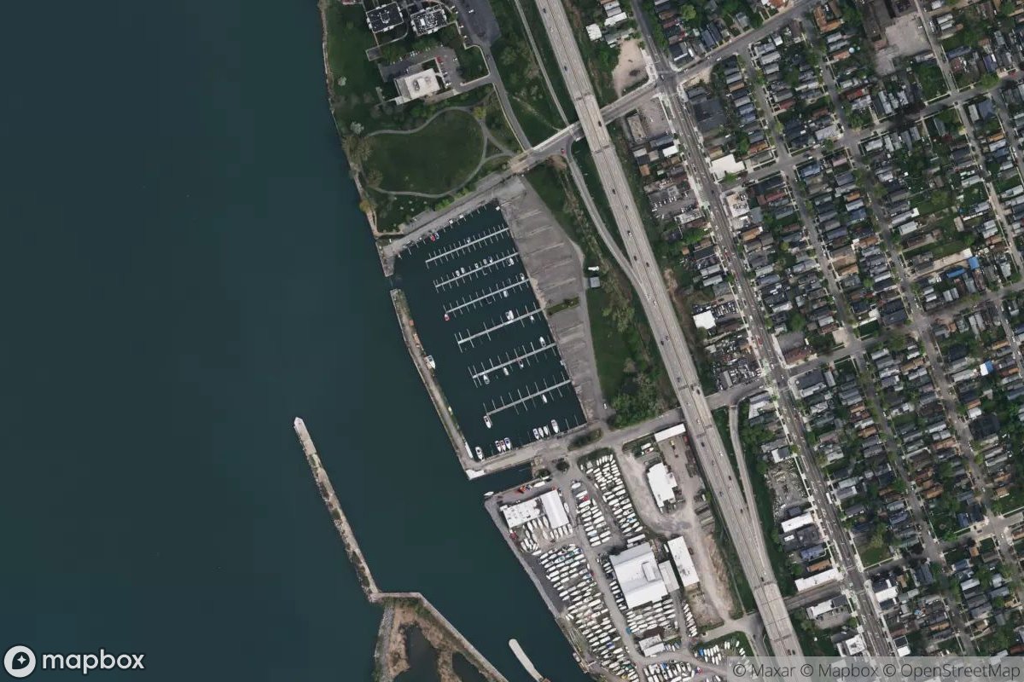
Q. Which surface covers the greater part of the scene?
water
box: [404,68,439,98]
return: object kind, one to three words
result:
building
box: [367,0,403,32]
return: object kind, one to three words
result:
building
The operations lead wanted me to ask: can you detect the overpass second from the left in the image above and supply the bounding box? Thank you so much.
[676,381,716,437]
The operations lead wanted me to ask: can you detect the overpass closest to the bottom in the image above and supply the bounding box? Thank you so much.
[753,582,795,644]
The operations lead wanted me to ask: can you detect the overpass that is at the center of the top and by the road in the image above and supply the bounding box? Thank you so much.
[573,91,613,155]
